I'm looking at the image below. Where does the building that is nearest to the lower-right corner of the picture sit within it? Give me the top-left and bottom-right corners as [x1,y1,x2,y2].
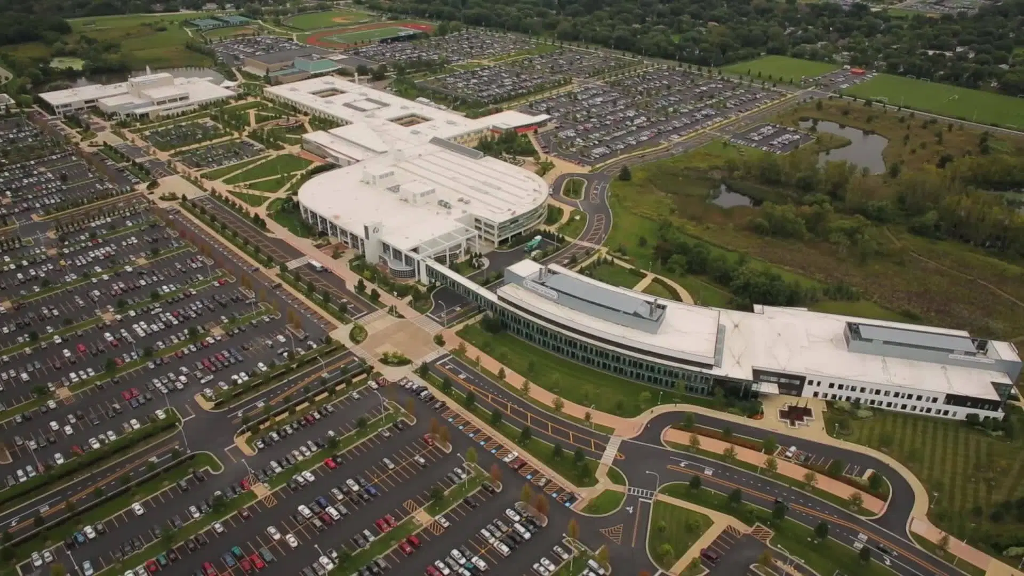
[720,305,1021,429]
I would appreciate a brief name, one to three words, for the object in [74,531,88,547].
car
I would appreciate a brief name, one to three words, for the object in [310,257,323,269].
vehicle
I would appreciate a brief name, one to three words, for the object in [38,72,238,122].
building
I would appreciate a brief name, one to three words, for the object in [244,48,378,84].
building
